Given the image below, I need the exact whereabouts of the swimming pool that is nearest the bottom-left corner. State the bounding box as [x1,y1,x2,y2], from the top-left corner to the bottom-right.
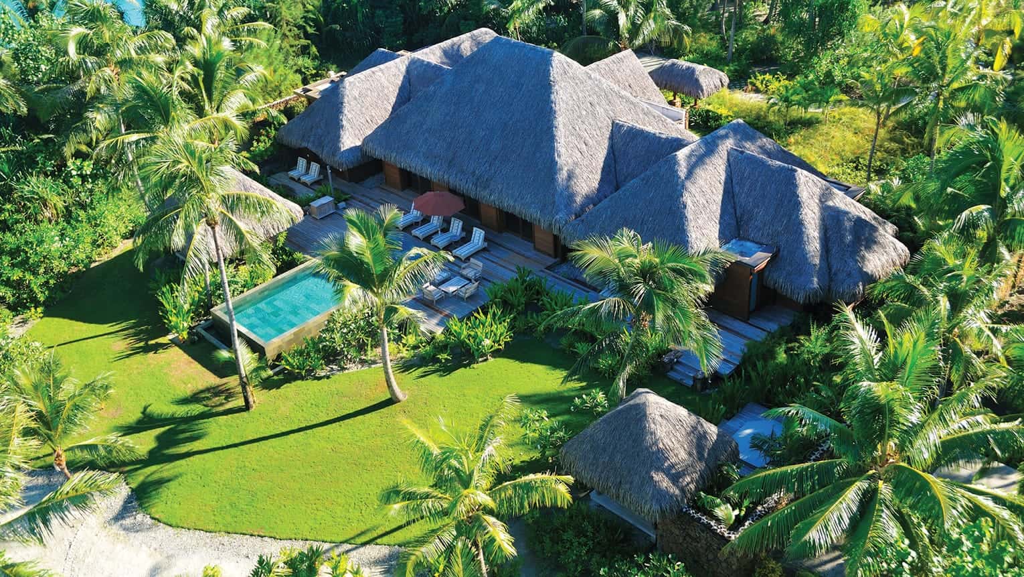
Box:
[190,260,377,371]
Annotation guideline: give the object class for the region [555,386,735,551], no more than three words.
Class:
shed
